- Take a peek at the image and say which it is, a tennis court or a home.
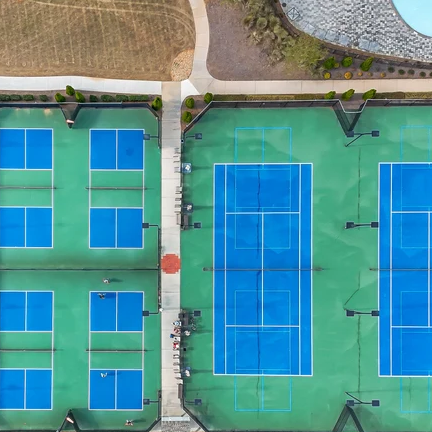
tennis court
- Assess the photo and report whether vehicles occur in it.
No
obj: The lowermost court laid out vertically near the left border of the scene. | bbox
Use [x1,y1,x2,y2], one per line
[0,291,53,410]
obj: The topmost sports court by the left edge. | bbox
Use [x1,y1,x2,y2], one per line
[0,128,53,248]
